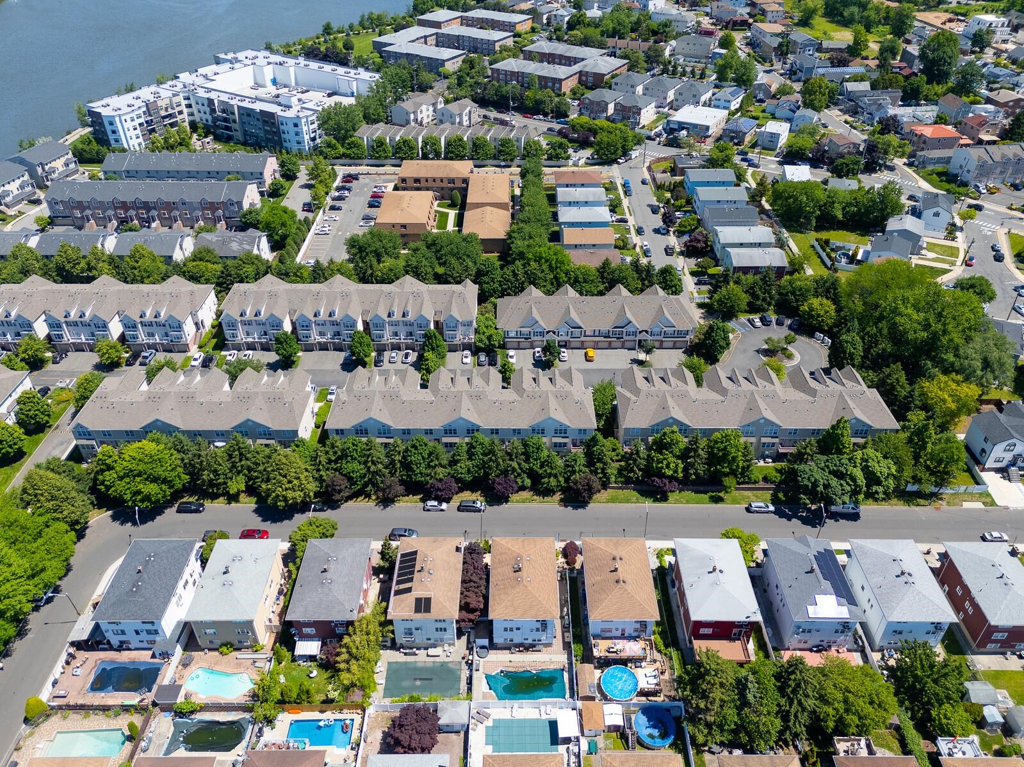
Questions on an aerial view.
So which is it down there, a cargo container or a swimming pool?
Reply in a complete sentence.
Of the two, only a swimming pool appears.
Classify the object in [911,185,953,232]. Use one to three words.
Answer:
house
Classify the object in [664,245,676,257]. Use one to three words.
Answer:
vehicle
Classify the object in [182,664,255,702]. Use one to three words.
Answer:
swimming pool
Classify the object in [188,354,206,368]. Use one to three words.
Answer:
car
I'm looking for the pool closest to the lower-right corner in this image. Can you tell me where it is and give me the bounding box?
[630,705,681,753]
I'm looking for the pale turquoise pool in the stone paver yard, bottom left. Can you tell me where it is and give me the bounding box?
[37,726,129,762]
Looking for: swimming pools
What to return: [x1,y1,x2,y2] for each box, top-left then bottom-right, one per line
[37,726,129,762]
[381,660,463,700]
[483,715,563,757]
[162,715,254,757]
[598,663,641,707]
[182,664,255,702]
[482,668,571,699]
[83,659,167,696]
[283,717,357,750]
[630,705,681,753]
